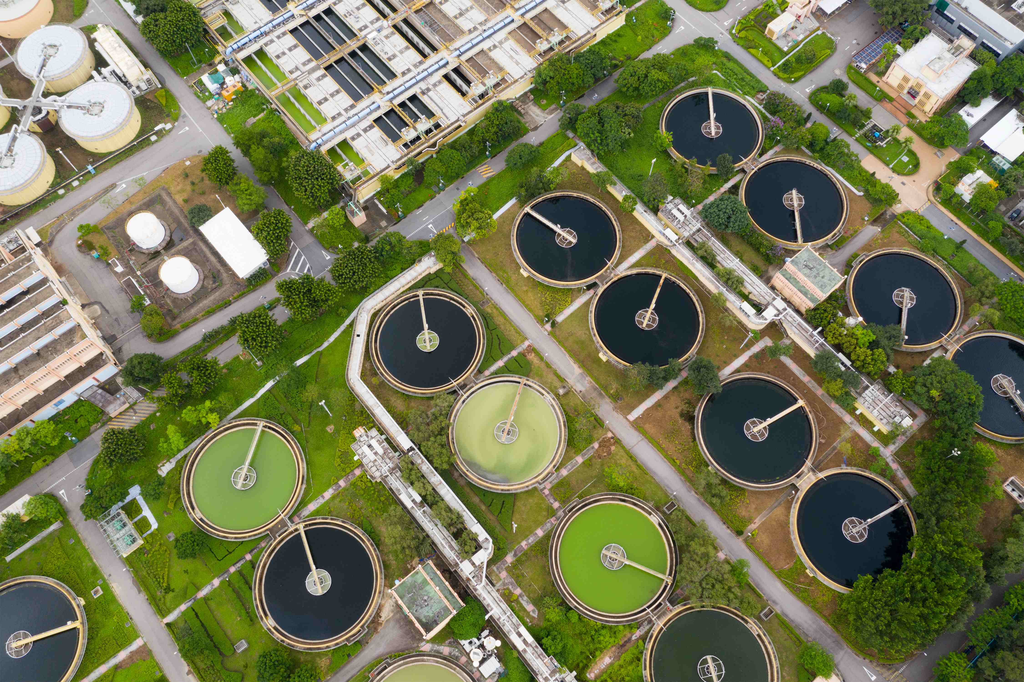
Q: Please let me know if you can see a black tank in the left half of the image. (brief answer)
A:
Yes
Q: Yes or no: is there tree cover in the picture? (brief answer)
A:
Yes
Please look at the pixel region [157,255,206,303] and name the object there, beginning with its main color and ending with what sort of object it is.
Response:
white storage tank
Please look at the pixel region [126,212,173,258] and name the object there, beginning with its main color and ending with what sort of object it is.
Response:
white storage tank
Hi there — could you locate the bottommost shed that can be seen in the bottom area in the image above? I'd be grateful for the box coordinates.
[476,653,511,681]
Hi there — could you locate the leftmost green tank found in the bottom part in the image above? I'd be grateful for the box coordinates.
[179,417,307,541]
